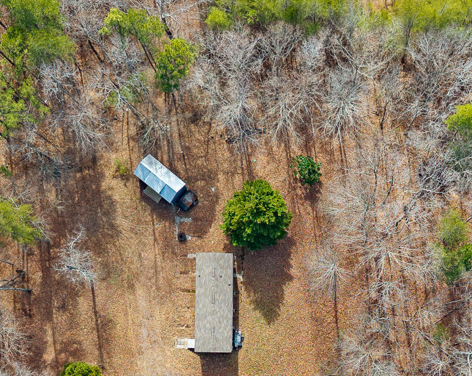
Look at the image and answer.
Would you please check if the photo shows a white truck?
No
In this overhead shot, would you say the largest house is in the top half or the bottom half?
bottom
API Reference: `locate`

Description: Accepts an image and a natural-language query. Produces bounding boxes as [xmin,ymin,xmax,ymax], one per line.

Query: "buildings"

[135,155,186,204]
[195,253,234,353]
